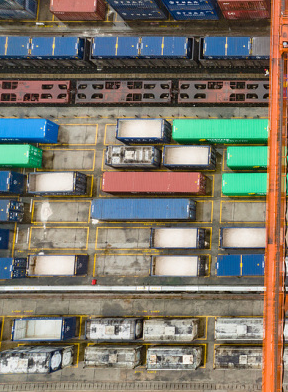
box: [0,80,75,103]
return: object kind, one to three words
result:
rail car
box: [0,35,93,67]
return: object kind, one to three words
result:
rail car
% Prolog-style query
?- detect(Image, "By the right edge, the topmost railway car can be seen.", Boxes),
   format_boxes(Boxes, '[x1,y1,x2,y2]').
[199,36,287,67]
